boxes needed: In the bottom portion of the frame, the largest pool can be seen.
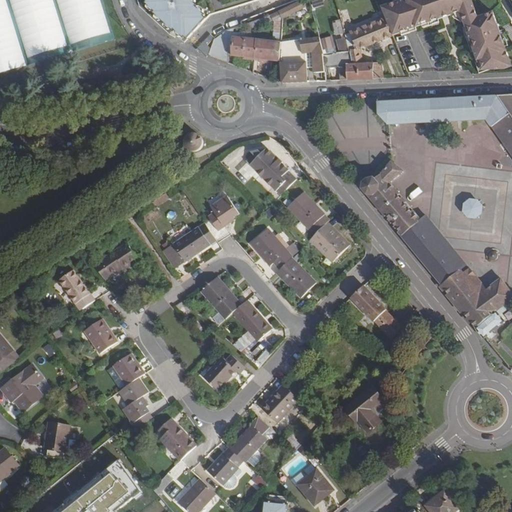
[282,452,308,477]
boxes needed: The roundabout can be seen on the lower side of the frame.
[450,374,512,446]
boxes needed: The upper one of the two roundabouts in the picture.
[200,78,253,130]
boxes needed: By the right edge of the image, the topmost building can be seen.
[346,0,510,72]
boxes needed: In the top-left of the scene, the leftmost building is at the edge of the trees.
[0,0,113,76]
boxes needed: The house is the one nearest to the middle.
[250,227,289,265]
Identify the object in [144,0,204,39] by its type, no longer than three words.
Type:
building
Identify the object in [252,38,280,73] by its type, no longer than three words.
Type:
house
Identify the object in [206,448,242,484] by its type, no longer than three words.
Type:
house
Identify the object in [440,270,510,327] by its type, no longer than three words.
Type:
building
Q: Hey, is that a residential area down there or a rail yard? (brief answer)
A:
residential area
